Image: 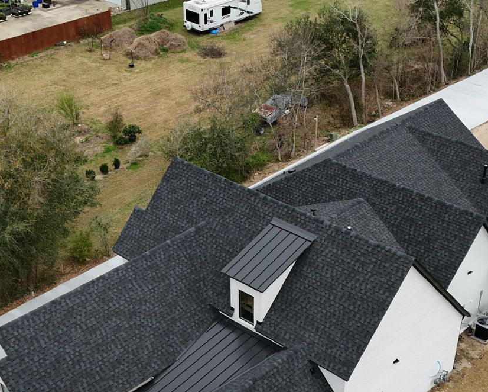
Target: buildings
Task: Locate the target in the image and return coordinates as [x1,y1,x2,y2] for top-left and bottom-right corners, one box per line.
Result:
[0,99,488,392]
[99,0,165,11]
